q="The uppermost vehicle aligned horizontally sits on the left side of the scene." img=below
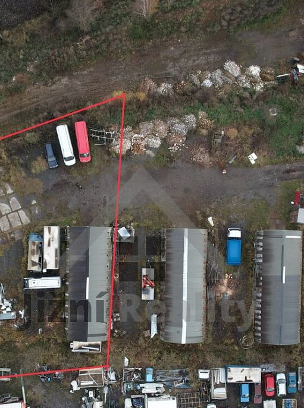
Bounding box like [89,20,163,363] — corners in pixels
[23,277,62,289]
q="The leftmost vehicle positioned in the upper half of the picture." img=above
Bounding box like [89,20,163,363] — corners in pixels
[43,143,60,169]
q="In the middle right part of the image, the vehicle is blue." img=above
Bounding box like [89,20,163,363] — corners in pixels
[226,227,242,265]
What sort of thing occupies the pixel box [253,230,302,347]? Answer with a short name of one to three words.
shed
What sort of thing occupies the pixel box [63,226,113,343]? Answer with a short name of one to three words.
shed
